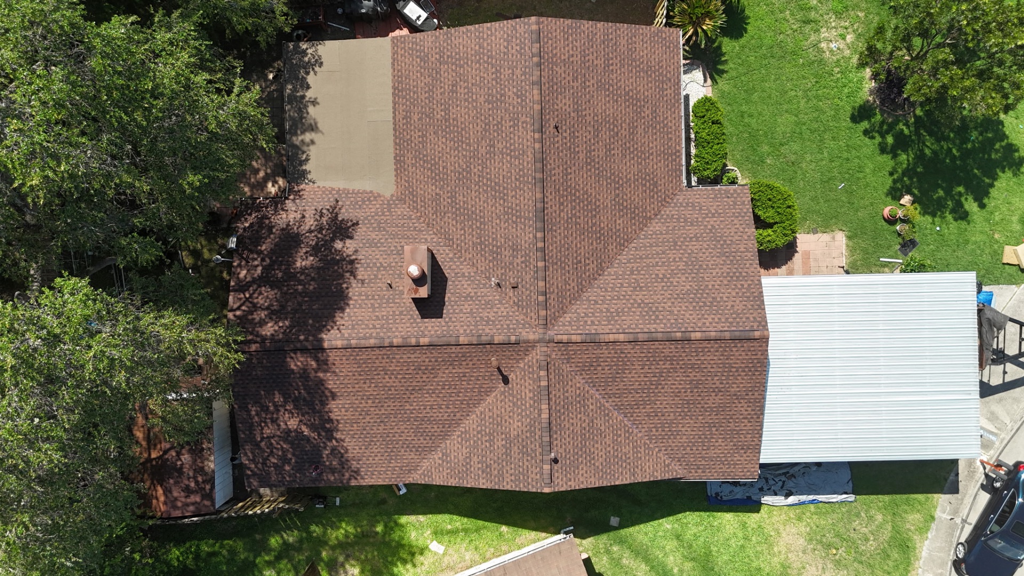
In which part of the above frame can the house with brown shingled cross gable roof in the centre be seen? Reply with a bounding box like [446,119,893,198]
[226,15,770,495]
